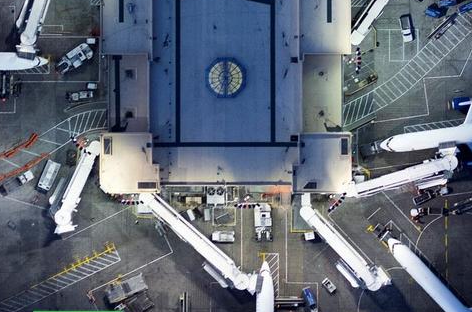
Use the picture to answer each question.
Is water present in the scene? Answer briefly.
No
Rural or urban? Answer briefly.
urban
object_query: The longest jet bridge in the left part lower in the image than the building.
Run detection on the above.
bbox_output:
[77,192,263,311]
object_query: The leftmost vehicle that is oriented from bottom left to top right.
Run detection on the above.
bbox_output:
[0,170,34,197]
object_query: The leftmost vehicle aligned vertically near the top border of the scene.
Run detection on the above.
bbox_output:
[401,14,413,41]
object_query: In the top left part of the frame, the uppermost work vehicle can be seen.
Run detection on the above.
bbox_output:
[55,38,94,74]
